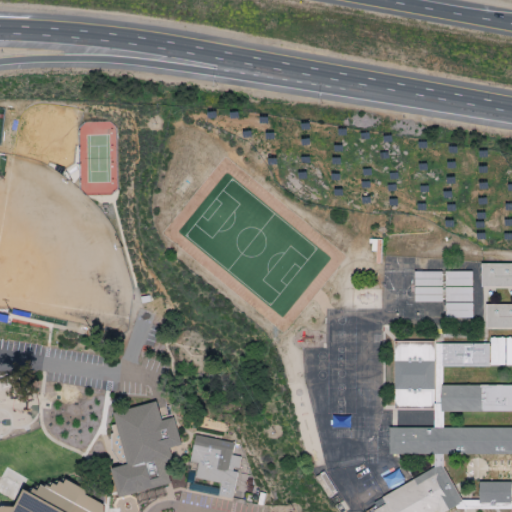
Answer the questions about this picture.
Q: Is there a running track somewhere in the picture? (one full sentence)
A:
Yes, the picture does show a running track.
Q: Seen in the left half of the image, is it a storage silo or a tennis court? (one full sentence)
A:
The one visible in the left half of the image is a tennis court.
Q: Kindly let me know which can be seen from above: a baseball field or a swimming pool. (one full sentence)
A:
This aerial view contains a baseball field.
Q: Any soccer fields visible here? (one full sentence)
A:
Yes, a soccer field is visible in the scene.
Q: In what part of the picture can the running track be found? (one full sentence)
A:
The running track is located in the center region of the scene.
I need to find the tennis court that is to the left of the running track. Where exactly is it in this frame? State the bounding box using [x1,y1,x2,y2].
[80,122,118,194]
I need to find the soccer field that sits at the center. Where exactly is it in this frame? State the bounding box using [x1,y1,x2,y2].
[180,173,330,317]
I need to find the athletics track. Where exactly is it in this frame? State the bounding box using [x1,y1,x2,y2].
[164,156,346,332]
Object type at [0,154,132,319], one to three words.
baseball field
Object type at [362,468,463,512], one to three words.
building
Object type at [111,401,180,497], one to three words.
building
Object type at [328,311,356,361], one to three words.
basketball court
